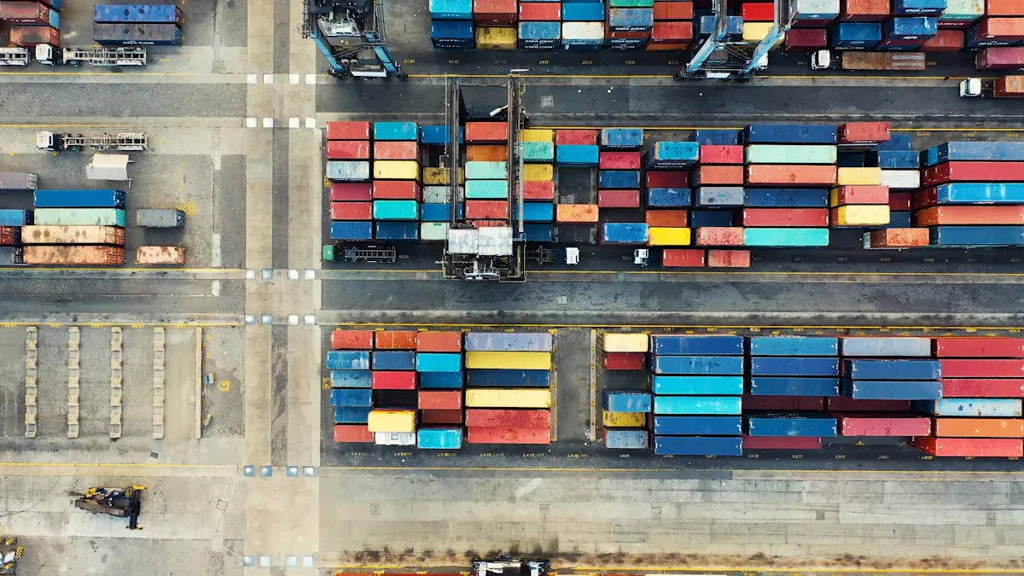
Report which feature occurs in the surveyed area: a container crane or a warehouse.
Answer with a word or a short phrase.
container crane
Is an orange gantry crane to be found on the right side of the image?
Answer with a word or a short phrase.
No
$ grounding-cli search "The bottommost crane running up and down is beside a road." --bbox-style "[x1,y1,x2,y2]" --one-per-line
[432,70,539,290]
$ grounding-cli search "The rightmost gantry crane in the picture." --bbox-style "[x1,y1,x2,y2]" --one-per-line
[673,0,804,84]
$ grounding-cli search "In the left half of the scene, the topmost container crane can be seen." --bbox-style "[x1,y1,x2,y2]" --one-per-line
[303,0,417,82]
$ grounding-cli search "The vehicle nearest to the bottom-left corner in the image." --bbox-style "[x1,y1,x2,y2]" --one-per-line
[64,481,150,535]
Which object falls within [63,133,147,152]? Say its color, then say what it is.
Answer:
white trailer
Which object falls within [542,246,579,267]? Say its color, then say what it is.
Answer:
white truck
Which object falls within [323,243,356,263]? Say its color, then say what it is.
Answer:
green vehicle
